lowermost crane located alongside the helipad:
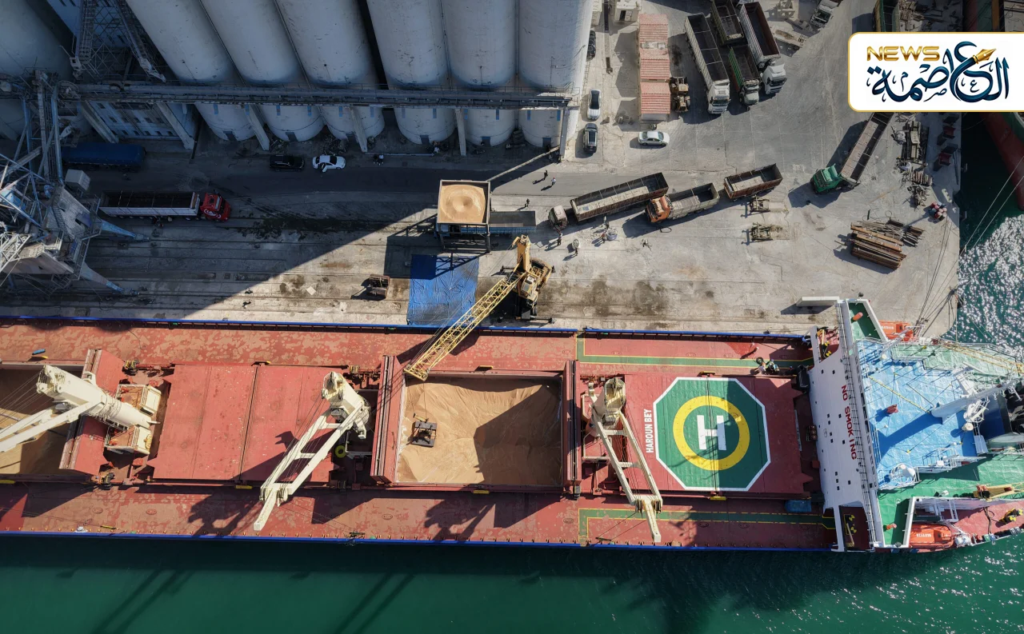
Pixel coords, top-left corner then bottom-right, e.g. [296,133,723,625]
[574,382,663,547]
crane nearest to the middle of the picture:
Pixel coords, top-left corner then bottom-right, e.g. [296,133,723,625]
[409,233,560,428]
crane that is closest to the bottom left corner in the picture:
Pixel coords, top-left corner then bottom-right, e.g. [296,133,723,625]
[0,368,173,473]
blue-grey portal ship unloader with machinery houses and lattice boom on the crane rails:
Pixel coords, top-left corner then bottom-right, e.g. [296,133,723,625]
[0,64,153,298]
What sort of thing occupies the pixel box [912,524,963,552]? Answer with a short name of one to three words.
boat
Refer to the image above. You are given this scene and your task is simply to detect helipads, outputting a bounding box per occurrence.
[651,378,773,494]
